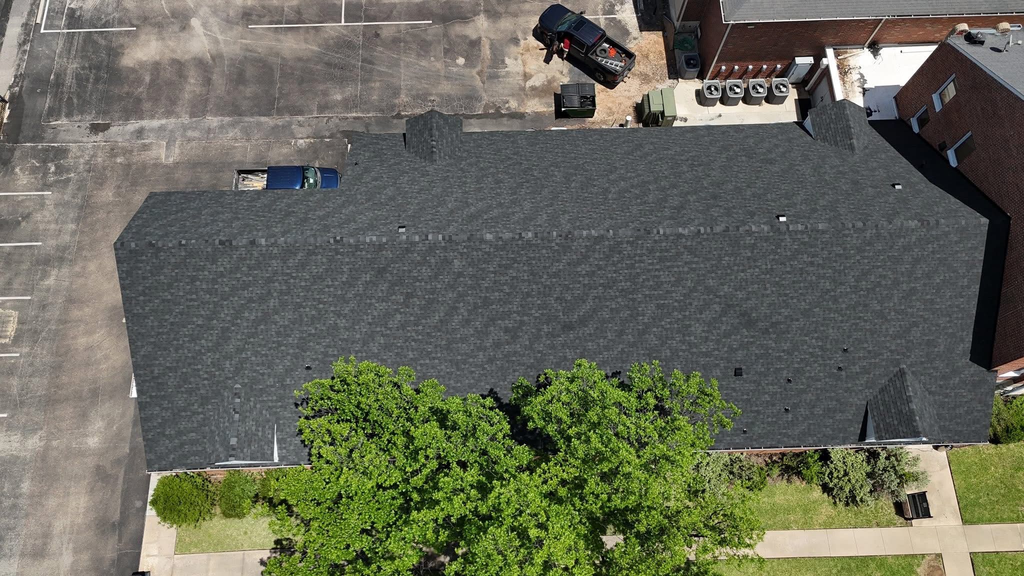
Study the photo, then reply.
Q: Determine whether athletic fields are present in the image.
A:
No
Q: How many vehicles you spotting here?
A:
2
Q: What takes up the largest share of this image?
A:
buildings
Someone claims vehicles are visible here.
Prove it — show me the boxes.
[234,157,344,188]
[537,2,641,88]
